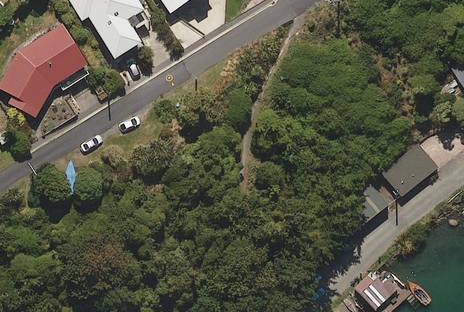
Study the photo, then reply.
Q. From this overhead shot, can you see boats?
Yes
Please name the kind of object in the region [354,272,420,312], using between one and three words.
building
